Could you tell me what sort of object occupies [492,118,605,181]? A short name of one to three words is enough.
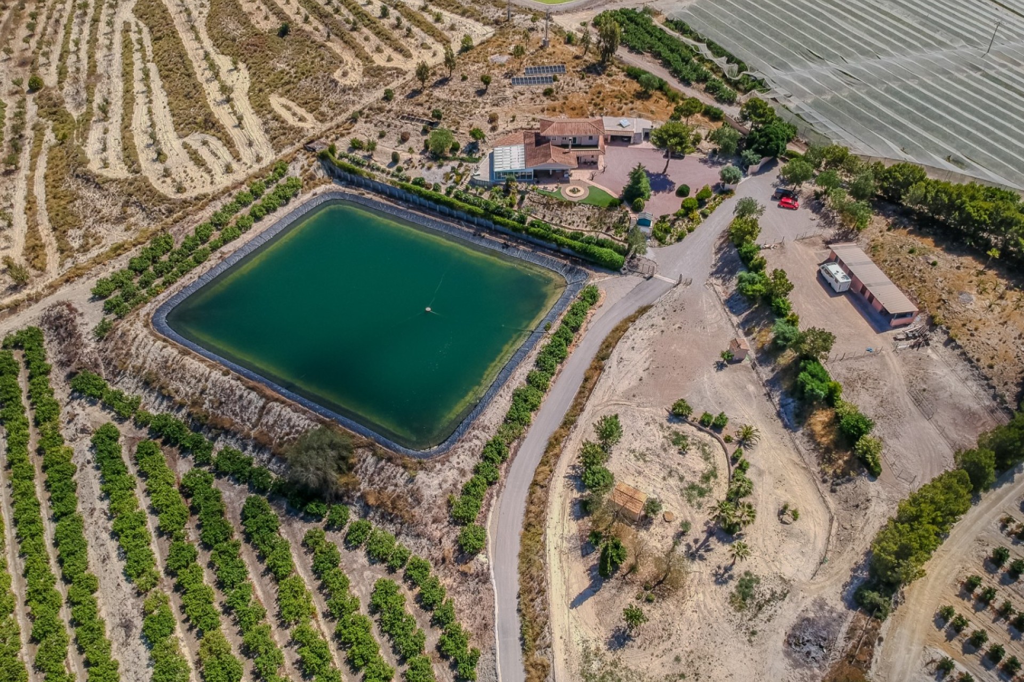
house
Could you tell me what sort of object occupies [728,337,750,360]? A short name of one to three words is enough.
shed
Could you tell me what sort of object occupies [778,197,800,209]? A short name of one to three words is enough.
vehicle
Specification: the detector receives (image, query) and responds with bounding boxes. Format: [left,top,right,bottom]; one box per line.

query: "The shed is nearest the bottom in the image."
[610,481,648,520]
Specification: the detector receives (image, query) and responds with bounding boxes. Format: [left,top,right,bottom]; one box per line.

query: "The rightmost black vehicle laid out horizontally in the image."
[773,188,800,201]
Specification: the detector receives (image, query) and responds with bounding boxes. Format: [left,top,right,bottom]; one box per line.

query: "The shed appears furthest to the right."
[828,242,920,331]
